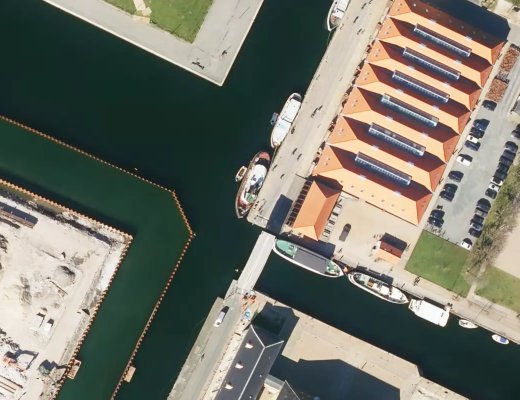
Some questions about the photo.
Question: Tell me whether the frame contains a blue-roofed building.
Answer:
No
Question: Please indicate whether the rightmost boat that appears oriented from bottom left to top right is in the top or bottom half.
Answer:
top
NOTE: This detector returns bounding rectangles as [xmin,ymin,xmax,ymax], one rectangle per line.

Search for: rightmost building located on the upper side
[315,0,508,226]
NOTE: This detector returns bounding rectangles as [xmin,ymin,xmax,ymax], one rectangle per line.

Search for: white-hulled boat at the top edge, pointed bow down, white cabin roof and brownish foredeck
[326,0,350,31]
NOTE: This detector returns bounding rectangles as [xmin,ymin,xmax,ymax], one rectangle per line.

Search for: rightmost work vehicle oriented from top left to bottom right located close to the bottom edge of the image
[36,362,56,386]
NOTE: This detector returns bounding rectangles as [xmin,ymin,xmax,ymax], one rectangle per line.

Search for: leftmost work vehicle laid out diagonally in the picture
[1,355,24,372]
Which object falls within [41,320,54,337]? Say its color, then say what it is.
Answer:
white vehicle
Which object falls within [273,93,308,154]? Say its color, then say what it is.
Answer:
white boat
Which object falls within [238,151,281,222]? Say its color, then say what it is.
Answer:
white ship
